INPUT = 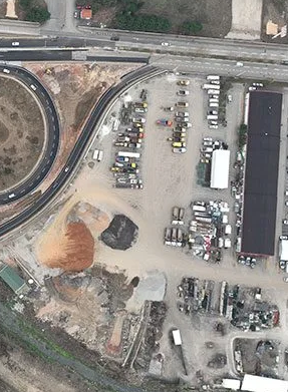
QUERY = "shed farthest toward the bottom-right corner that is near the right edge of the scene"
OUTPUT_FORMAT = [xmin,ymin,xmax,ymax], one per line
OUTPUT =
[239,372,288,392]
